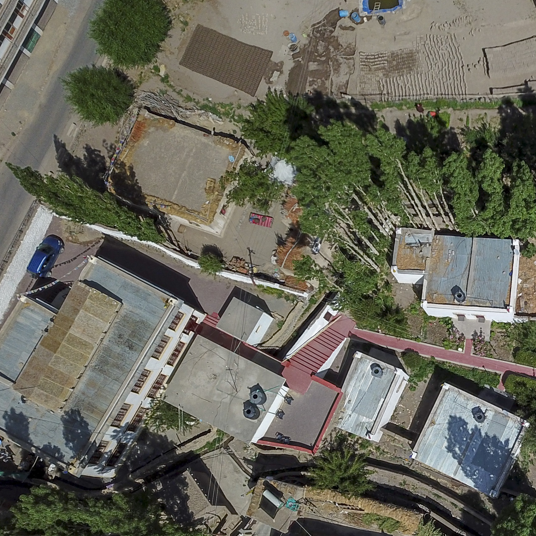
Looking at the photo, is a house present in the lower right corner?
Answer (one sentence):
Yes, in the lower right corner there is a house.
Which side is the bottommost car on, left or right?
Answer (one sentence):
The bottommost car is on the left side of the image.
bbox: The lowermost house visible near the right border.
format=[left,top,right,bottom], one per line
[413,384,529,499]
